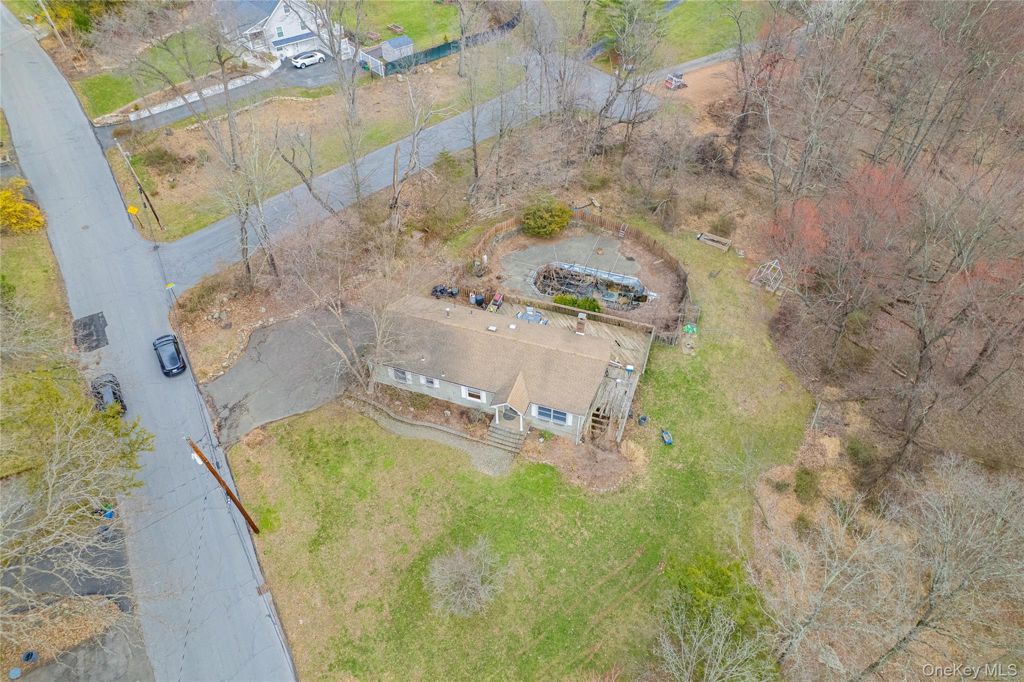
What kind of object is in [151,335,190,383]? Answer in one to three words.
car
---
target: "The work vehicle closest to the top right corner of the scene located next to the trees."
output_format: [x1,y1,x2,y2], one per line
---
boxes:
[667,69,691,90]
